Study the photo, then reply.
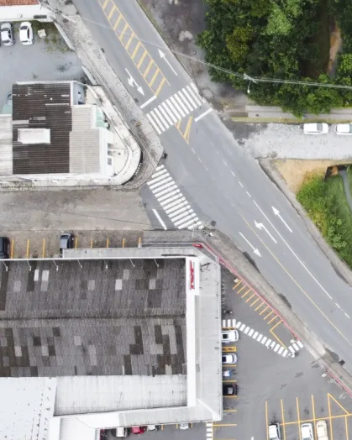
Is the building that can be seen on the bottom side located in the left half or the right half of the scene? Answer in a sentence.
The building that can be seen on the bottom side sits on the left side.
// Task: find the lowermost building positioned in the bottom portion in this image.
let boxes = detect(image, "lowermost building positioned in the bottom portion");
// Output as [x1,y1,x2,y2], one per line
[0,242,230,440]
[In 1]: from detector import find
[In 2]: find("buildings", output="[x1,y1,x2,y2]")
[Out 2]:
[0,81,149,187]
[0,242,230,440]
[0,0,67,28]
